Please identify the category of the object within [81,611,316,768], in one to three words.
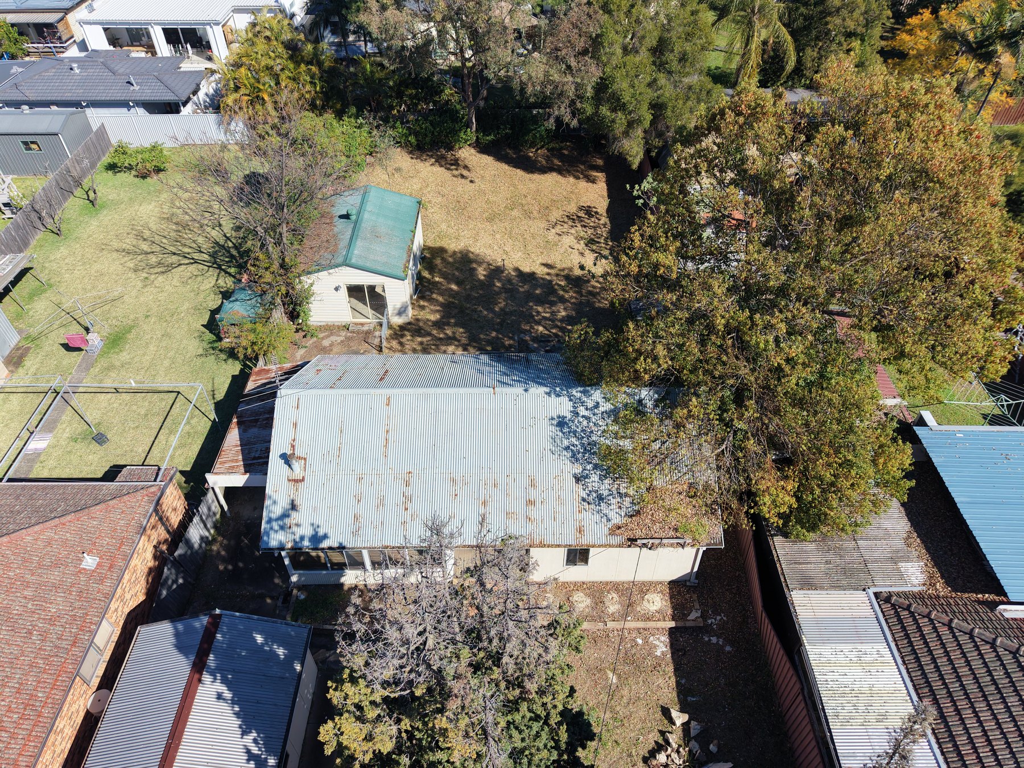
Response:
building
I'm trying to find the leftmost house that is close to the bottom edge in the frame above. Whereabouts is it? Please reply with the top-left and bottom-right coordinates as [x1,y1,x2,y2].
[0,469,179,768]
